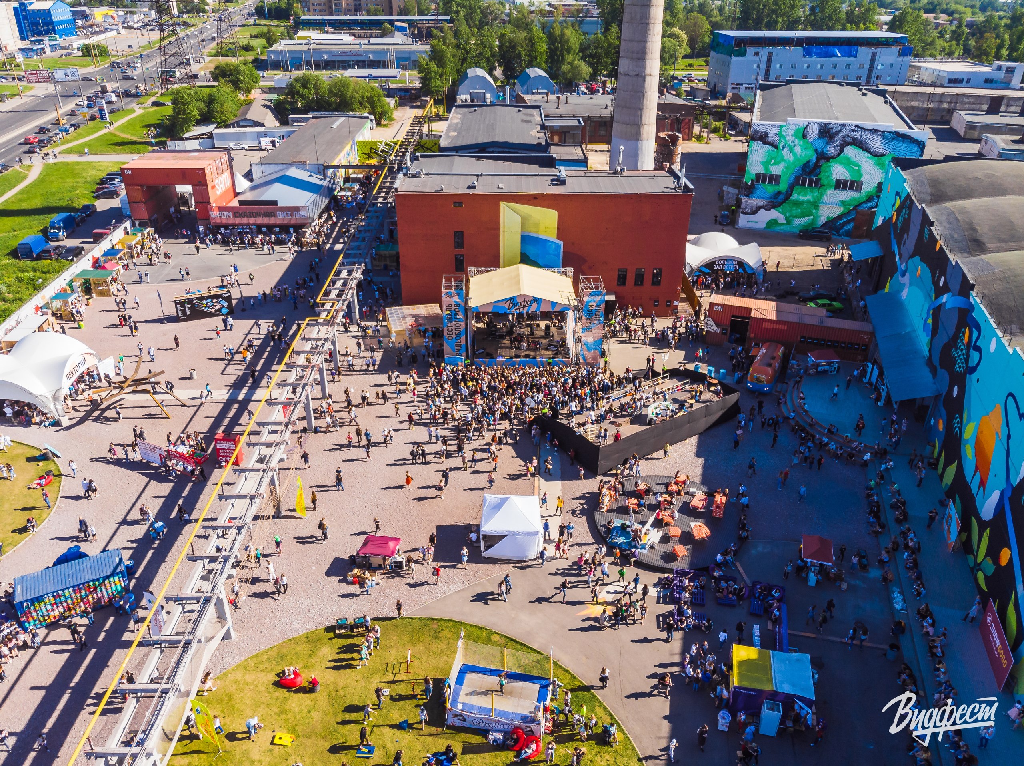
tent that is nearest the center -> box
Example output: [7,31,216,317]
[482,494,542,563]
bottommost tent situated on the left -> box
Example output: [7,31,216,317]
[358,536,410,585]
